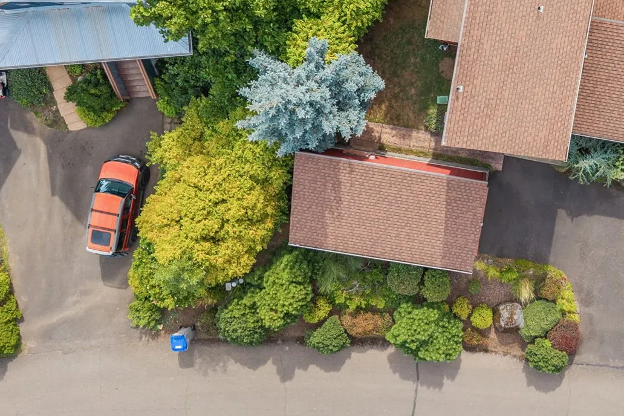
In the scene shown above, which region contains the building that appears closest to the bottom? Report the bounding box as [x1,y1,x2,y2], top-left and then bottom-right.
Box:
[287,142,490,277]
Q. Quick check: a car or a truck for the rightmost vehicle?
car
